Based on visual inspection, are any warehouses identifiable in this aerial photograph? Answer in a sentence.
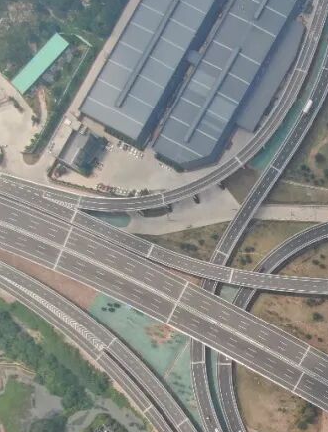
Yes, a warehouse appears in the view.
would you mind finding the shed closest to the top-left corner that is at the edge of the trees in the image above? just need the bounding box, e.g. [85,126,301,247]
[12,34,73,96]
